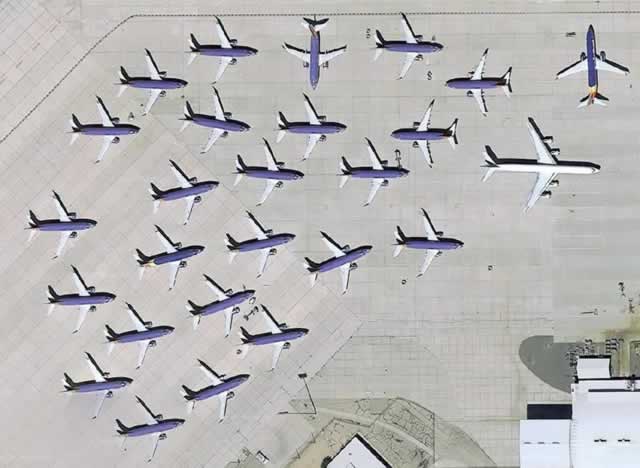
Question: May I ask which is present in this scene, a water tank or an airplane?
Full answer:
The image shows an airplane.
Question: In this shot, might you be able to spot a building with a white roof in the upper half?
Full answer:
No, there's no building with a white roof to be seen in the upper half.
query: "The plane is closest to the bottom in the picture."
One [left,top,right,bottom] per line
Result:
[113,400,185,461]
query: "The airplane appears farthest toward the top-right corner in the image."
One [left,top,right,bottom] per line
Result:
[552,26,628,109]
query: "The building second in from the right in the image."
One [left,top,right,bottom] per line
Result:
[520,420,572,468]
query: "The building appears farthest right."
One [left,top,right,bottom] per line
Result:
[572,381,640,468]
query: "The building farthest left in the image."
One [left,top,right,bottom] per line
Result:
[327,437,386,468]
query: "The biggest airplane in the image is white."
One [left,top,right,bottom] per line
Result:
[479,121,599,215]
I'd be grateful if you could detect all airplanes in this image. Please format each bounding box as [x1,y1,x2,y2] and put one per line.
[446,53,514,117]
[114,52,188,114]
[552,26,628,109]
[271,95,346,158]
[184,278,254,338]
[179,362,249,422]
[232,139,304,202]
[46,269,116,331]
[148,164,219,225]
[387,211,462,274]
[63,356,133,417]
[113,400,185,461]
[103,307,174,368]
[479,121,599,215]
[332,139,408,202]
[24,194,97,256]
[68,98,140,160]
[178,89,250,149]
[391,104,459,167]
[279,24,345,90]
[367,14,442,78]
[222,216,295,277]
[301,235,372,294]
[184,19,258,82]
[236,309,308,371]
[132,228,204,289]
